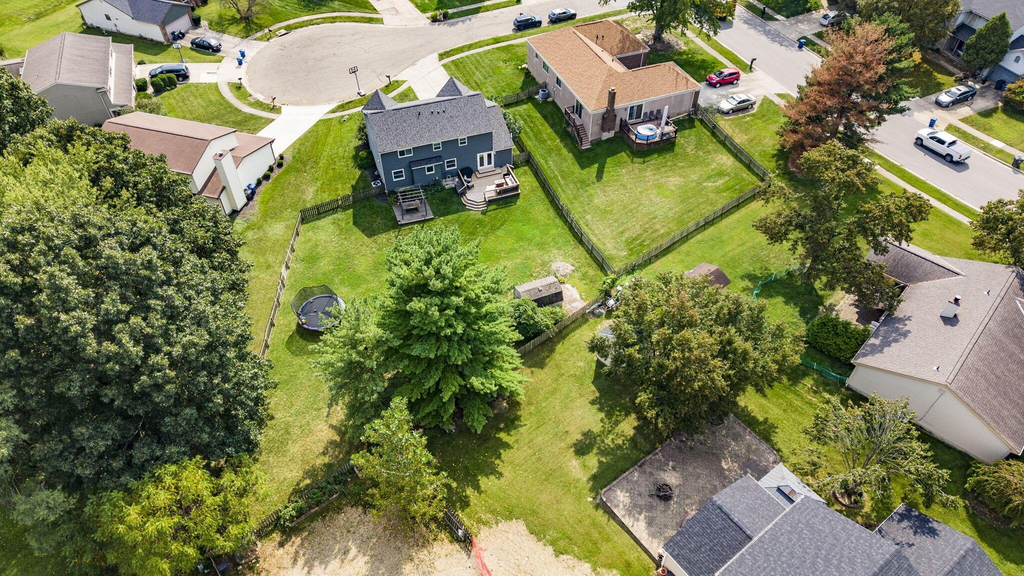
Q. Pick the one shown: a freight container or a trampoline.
trampoline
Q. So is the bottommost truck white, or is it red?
white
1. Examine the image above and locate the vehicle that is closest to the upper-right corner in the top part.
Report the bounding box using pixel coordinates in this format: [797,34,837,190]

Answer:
[937,84,979,105]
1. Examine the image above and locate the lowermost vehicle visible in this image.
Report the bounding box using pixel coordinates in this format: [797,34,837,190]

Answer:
[914,129,973,164]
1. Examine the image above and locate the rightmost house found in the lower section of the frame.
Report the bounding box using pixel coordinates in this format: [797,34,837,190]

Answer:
[846,237,1024,470]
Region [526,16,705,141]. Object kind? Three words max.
house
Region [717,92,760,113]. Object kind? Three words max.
car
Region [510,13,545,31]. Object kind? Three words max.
car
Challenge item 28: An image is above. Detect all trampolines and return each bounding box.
[294,279,347,331]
